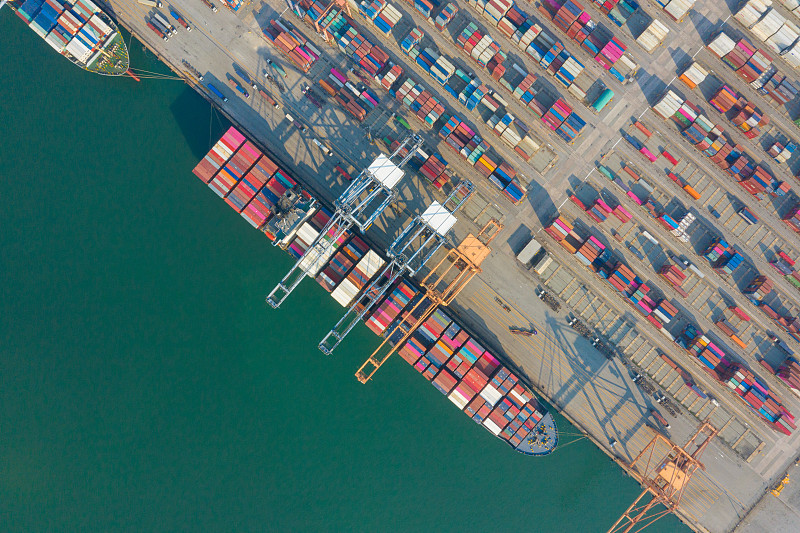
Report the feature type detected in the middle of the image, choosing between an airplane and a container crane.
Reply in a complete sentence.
The one visible in the middle of the image is a container crane.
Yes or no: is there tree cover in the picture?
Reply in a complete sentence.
No, the scene doesn't show any tree cover.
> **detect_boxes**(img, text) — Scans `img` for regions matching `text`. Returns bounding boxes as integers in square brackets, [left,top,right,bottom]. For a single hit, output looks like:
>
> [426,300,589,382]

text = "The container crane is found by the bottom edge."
[606,419,720,533]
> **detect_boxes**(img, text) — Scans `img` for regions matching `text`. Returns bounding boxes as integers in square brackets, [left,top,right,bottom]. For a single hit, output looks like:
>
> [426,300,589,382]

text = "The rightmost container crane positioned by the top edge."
[313,0,352,44]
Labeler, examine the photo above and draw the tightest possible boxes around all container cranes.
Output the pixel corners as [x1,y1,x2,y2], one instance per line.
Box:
[351,219,502,386]
[266,134,426,311]
[313,0,352,44]
[317,179,477,356]
[606,419,720,533]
